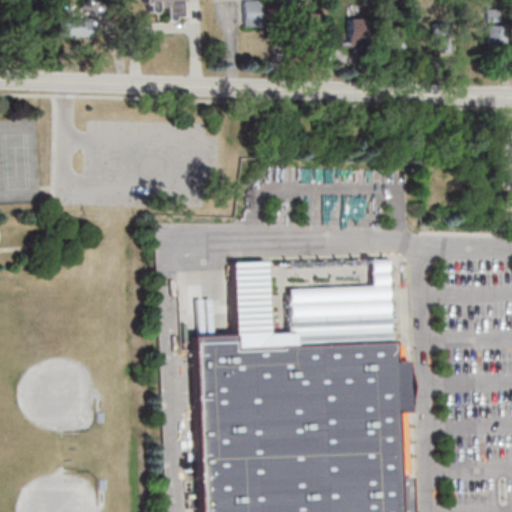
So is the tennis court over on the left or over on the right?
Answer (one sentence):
The tennis court appears in the left half of the scene.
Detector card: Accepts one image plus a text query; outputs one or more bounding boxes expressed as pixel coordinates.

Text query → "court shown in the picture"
[0,121,38,204]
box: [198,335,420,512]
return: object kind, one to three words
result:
building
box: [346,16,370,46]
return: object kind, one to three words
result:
house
